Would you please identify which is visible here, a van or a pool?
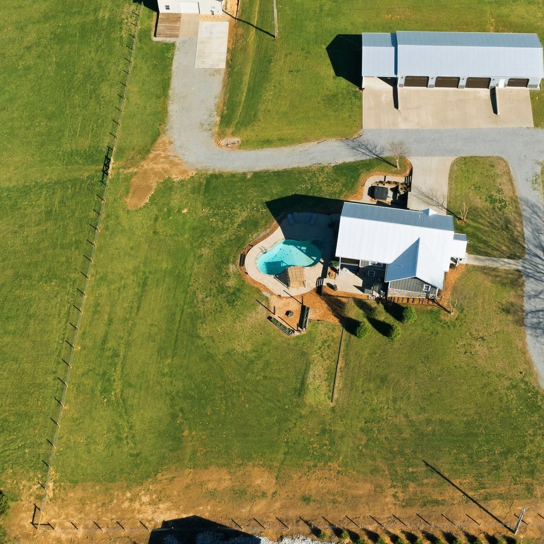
pool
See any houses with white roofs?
Yes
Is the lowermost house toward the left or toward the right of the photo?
right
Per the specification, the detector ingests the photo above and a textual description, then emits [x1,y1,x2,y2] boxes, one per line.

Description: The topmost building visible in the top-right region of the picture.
[360,31,544,90]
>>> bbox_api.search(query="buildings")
[360,31,544,90]
[336,203,467,305]
[158,0,224,16]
